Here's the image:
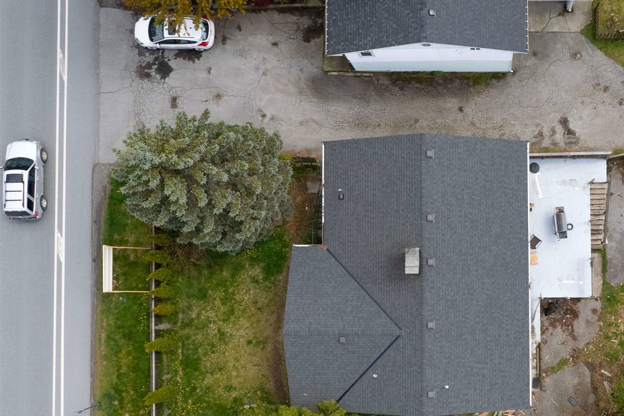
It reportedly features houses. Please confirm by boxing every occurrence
[318,0,530,74]
[283,136,533,416]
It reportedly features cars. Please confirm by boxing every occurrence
[1,139,48,220]
[135,9,216,49]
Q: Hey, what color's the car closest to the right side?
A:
white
